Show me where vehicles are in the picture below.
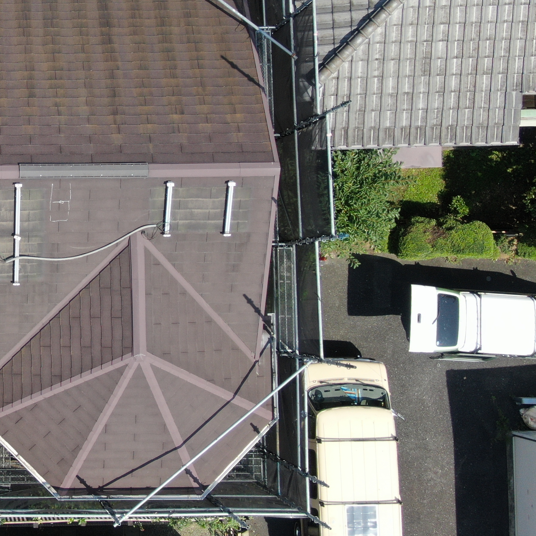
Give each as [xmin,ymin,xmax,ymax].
[291,356,409,536]
[412,285,536,370]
